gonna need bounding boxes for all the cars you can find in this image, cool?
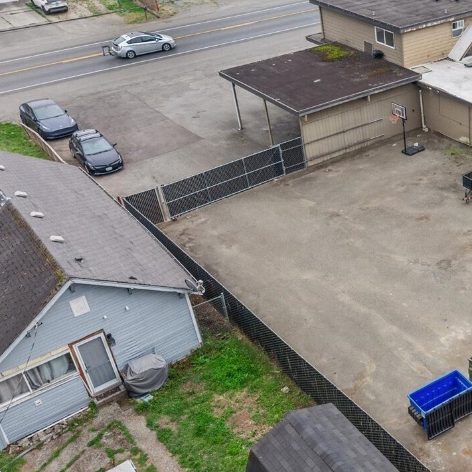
[21,92,79,137]
[60,127,123,173]
[104,31,177,58]
[32,0,66,13]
